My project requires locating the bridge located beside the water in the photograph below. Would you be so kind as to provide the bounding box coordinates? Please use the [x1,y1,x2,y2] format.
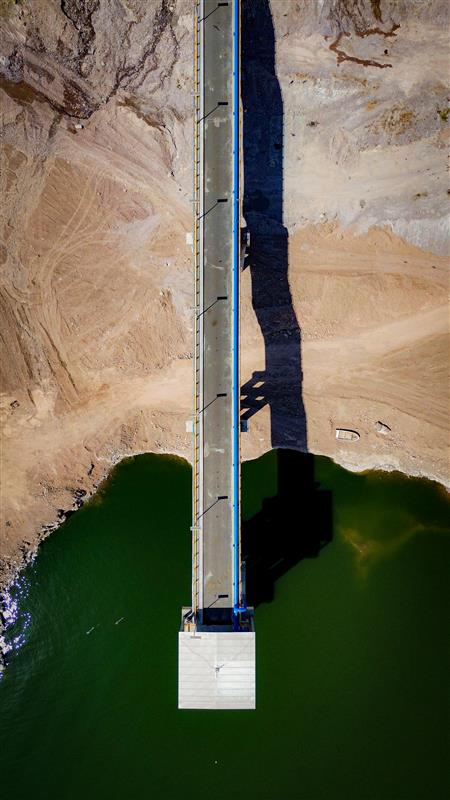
[186,0,248,624]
